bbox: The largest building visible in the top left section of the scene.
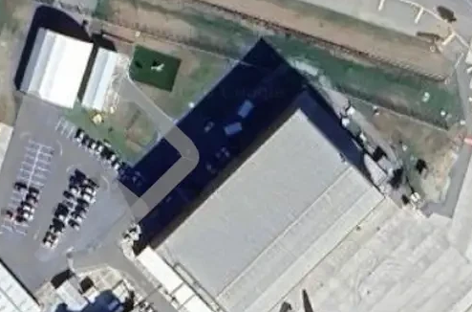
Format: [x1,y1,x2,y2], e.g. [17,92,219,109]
[20,28,94,109]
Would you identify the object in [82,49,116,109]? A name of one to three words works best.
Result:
hangar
